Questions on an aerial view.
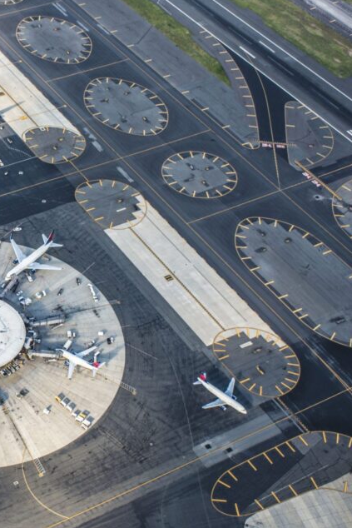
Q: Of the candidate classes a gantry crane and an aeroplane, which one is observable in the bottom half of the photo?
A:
aeroplane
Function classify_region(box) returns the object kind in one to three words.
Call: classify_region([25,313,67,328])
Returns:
jet bridge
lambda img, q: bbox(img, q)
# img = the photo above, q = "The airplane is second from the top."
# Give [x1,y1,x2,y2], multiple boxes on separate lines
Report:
[60,347,105,380]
